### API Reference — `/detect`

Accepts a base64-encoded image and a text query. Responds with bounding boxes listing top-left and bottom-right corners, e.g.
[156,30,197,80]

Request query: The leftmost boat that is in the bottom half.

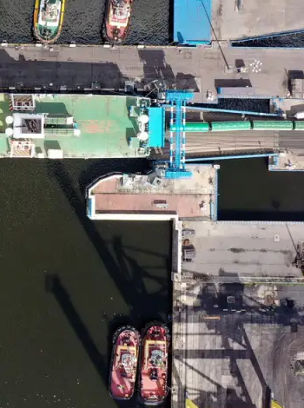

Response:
[107,321,140,400]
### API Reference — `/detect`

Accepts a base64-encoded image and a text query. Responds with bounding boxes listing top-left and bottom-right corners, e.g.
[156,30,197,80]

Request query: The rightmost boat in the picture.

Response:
[138,317,169,406]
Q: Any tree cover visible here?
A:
No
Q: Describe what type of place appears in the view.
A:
port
